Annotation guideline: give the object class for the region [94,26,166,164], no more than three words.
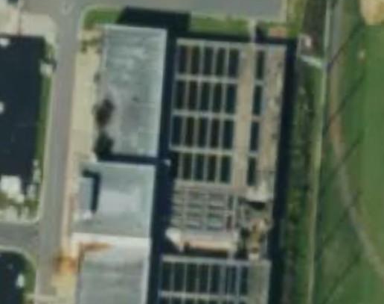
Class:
building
